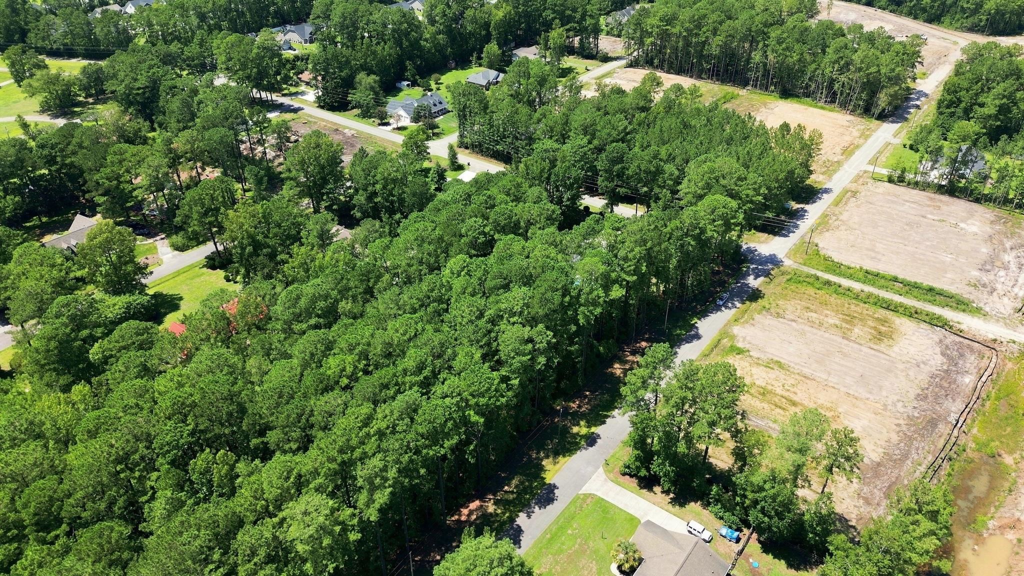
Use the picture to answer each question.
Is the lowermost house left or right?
right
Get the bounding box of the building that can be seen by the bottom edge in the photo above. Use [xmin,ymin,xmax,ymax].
[626,519,735,576]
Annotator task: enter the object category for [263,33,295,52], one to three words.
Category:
house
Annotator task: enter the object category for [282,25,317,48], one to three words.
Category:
house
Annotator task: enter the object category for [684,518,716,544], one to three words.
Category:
car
